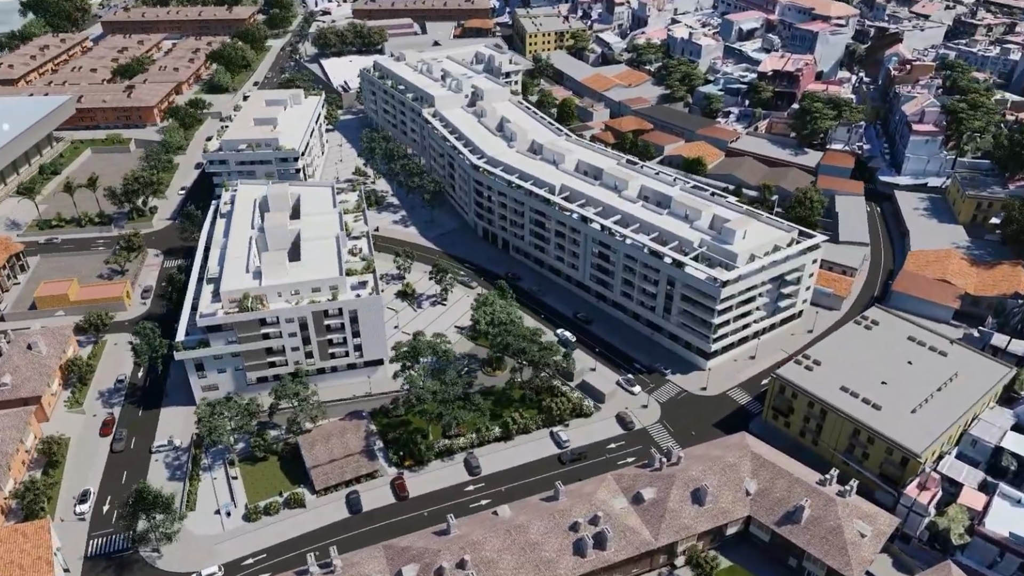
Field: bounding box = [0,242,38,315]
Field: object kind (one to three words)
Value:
house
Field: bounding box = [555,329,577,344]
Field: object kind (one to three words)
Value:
car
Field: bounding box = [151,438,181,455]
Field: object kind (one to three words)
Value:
car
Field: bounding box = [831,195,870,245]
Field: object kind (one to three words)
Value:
shed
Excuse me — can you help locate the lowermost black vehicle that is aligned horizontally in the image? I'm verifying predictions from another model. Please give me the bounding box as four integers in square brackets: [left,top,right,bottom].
[559,449,588,464]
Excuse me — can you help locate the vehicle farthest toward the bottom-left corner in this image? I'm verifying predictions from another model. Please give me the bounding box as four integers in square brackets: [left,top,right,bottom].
[74,488,95,515]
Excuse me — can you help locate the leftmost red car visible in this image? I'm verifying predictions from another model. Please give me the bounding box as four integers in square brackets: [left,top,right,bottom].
[97,415,118,437]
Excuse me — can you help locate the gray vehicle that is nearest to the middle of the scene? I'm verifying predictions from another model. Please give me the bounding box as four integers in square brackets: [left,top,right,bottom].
[459,275,477,288]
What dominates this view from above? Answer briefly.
buildings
